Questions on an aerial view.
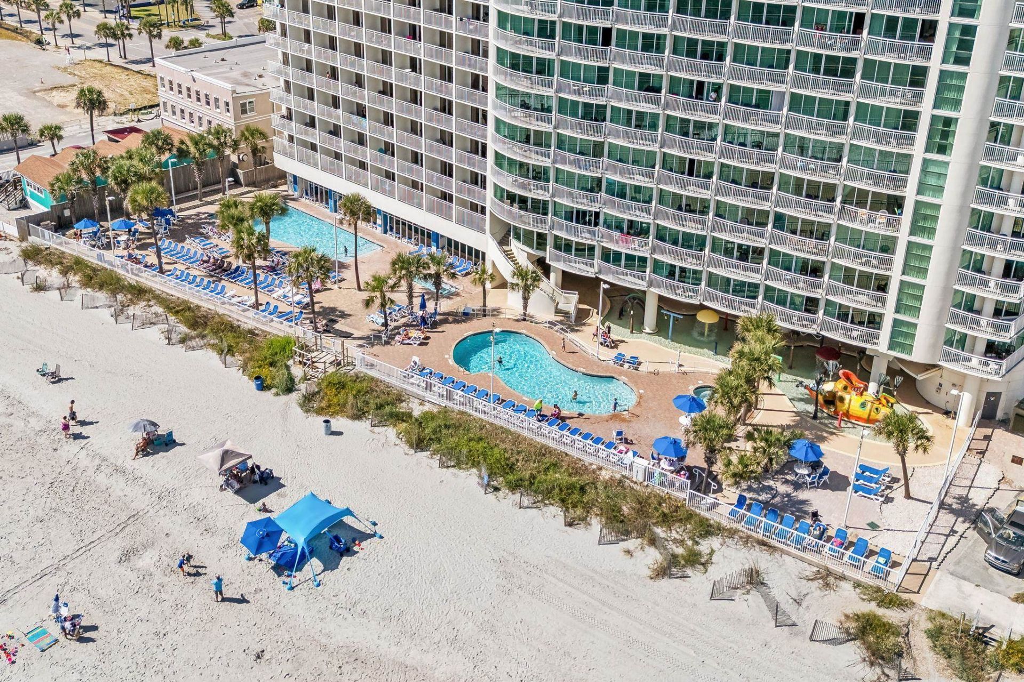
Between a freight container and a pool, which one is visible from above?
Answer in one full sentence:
Looking from above, you can make out a pool.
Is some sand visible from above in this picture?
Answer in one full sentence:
Yes, there's sand in this view.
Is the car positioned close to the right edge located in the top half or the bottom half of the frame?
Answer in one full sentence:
Seen from above, the car positioned close to the right edge lies in the bottom half of the view.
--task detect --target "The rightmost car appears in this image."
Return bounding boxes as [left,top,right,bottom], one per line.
[980,508,1024,566]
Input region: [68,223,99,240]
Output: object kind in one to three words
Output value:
umbrella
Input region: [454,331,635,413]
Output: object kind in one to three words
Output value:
swimming pool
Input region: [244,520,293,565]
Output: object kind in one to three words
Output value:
umbrella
